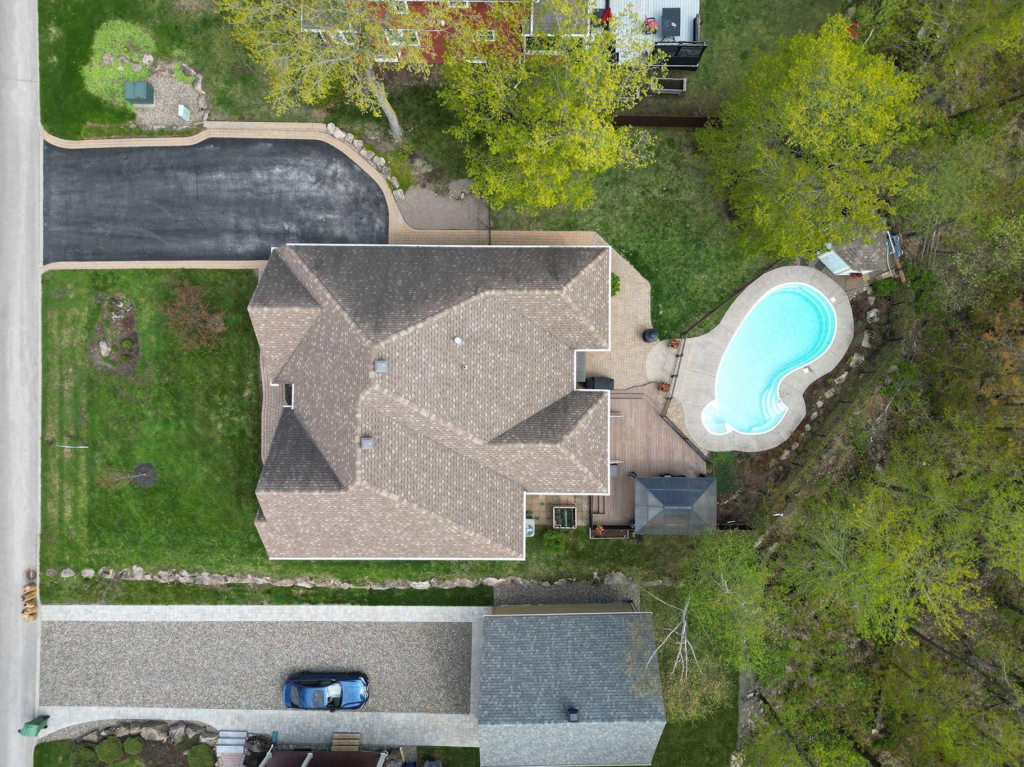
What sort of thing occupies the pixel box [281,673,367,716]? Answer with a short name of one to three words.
car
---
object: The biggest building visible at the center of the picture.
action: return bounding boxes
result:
[247,244,612,561]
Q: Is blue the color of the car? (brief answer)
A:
Yes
